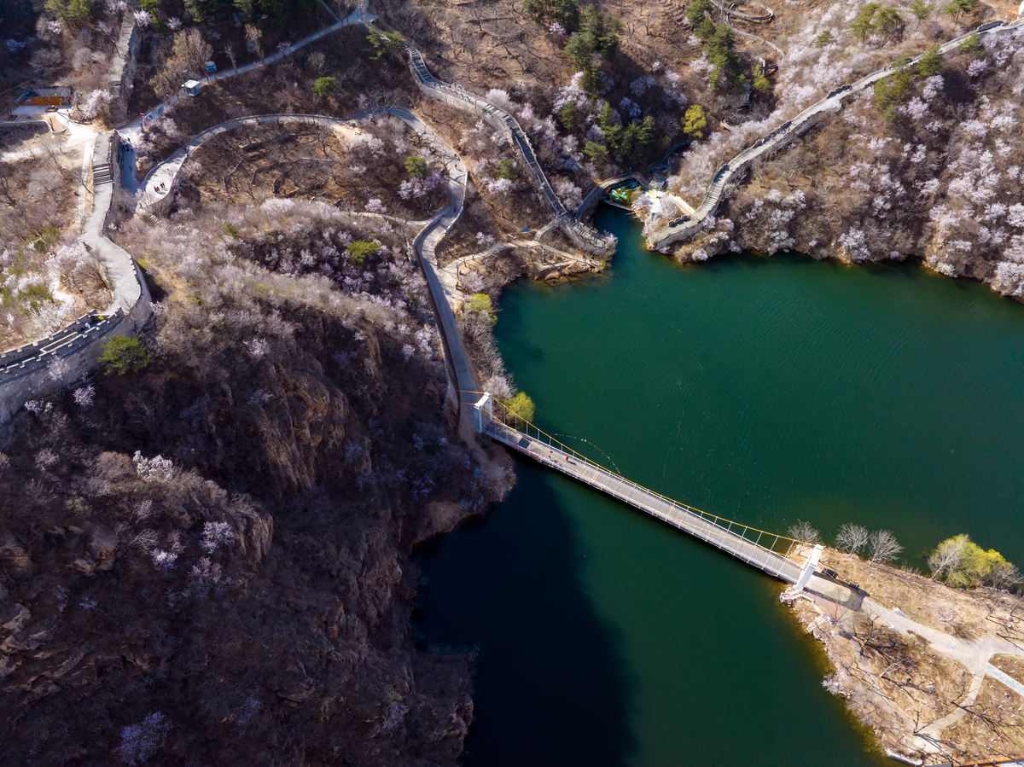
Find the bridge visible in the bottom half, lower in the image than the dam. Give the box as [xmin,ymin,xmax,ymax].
[454,389,892,622]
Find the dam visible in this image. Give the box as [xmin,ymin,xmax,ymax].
[592,174,651,213]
